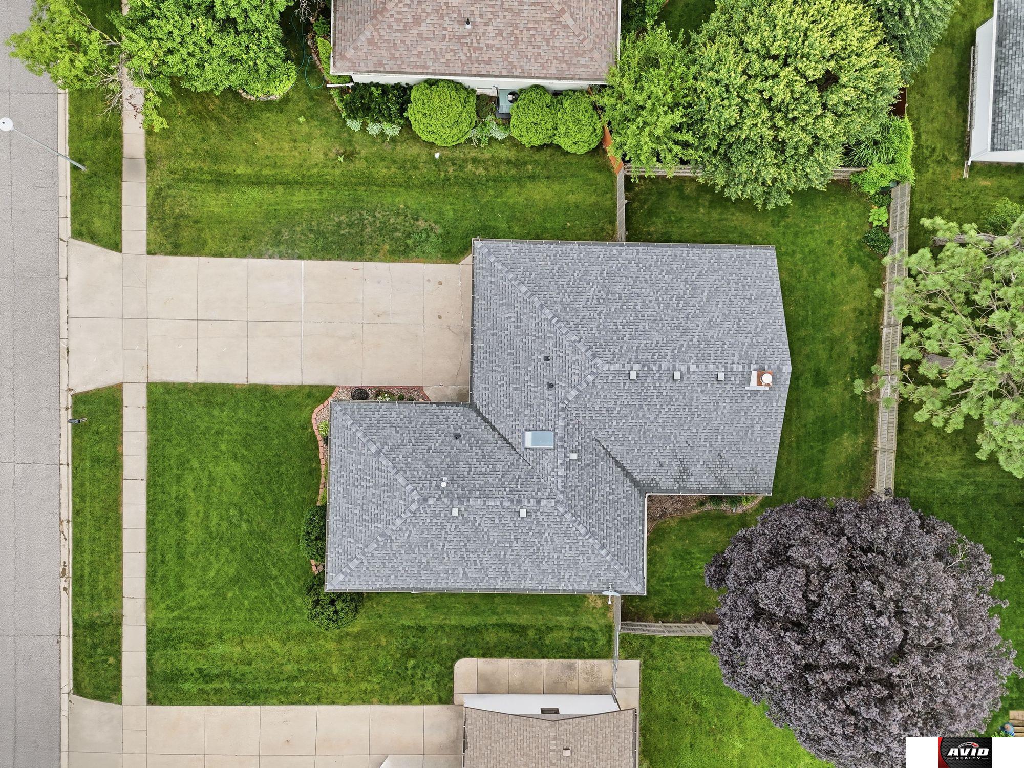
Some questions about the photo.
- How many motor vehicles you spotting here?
none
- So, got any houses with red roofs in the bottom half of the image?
No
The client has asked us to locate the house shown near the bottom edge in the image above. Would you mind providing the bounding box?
[461,694,637,768]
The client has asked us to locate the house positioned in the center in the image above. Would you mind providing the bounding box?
[323,235,792,597]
